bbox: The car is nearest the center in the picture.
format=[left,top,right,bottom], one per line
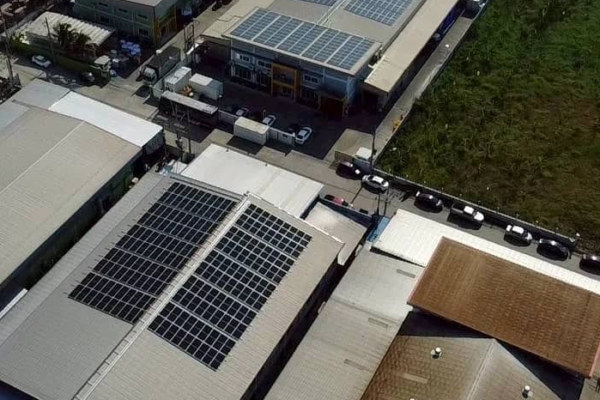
[320,190,346,207]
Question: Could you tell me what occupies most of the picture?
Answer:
buildings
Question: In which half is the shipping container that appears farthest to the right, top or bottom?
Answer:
top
